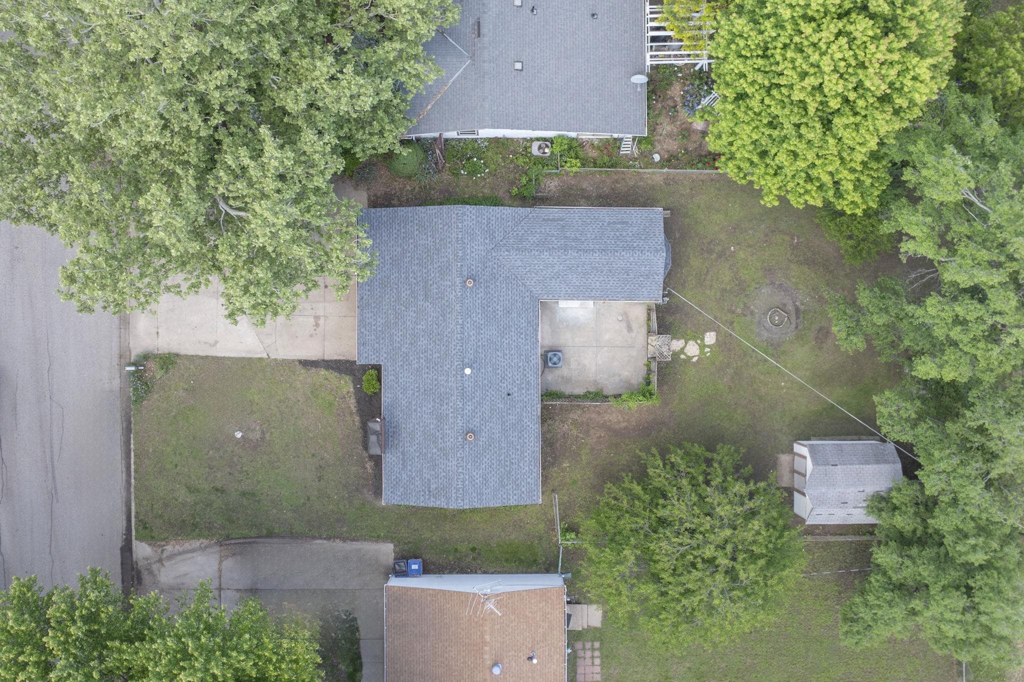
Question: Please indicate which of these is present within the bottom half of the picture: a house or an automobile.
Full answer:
Visible within the bottom half of the picture is a house.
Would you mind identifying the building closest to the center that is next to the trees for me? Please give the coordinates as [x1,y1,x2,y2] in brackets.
[355,205,670,508]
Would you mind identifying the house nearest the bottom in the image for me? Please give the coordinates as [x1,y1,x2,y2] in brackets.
[382,573,582,682]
